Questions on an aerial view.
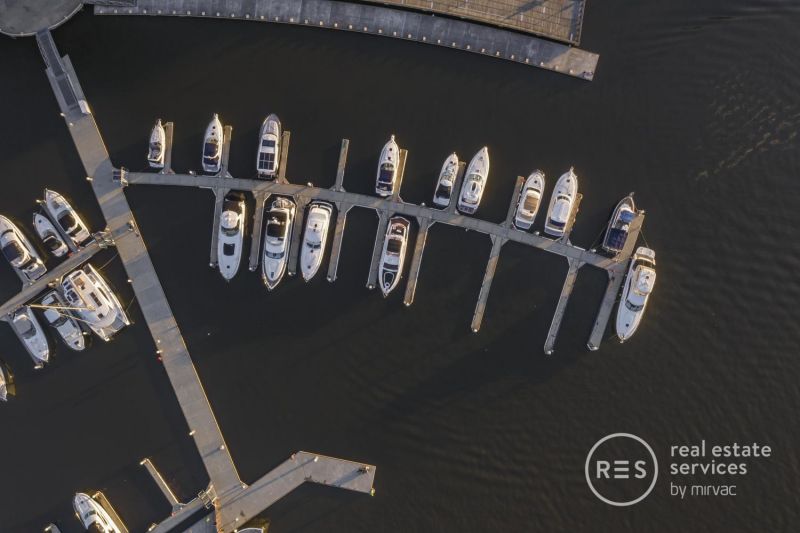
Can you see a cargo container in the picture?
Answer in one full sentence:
No, I find no cargo container anywhere in the image.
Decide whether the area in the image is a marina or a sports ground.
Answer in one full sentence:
The area seen from above is a marina.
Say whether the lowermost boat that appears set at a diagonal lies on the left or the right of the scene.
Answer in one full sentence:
The lowermost boat that appears set at a diagonal sits on the left side.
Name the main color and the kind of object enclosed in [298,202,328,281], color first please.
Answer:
white boat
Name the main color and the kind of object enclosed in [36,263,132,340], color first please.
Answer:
white boat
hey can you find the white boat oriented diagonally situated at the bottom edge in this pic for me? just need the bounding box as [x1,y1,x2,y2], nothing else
[73,495,114,533]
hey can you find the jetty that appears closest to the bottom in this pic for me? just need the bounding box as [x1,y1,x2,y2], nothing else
[94,459,209,533]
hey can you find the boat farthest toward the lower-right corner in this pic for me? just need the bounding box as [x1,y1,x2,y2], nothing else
[618,247,661,344]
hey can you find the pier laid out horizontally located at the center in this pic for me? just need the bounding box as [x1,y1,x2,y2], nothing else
[127,123,645,353]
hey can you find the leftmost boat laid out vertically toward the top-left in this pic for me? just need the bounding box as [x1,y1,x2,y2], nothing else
[146,118,168,168]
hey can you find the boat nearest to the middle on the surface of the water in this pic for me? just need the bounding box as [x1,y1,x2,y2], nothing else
[380,217,409,295]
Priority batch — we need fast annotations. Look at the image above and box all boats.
[239,527,259,533]
[36,263,132,340]
[545,164,577,237]
[515,170,545,229]
[216,198,244,281]
[375,134,400,196]
[260,198,292,289]
[73,495,114,533]
[14,308,49,360]
[44,191,89,245]
[618,247,661,344]
[456,147,489,214]
[0,216,44,279]
[42,292,80,348]
[146,118,168,168]
[298,202,328,281]
[202,111,225,172]
[434,152,459,209]
[603,191,634,254]
[255,113,280,178]
[380,217,409,295]
[34,216,67,256]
